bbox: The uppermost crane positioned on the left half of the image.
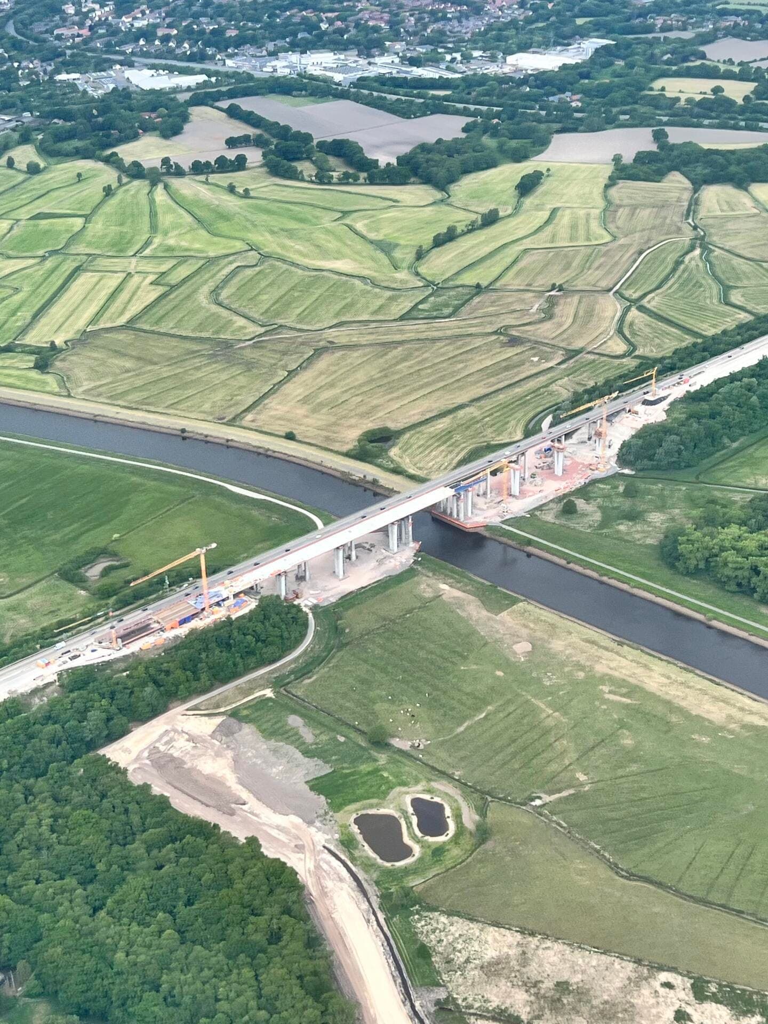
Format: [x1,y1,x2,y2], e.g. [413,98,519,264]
[131,540,222,614]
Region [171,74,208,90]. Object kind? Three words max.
building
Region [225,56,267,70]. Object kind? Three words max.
building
